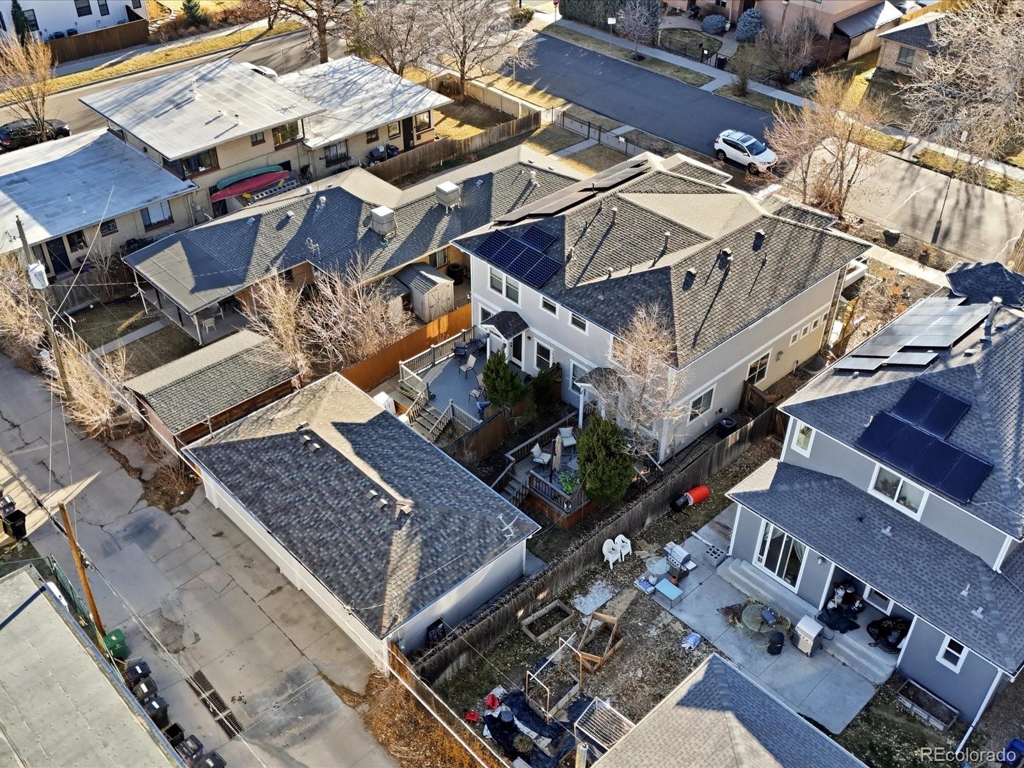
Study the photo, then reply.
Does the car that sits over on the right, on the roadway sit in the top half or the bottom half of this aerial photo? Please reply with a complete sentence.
The car that sits over on the right, on the roadway sits in the top half of the picture.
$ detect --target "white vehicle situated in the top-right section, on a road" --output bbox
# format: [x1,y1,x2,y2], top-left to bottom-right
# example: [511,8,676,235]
[713,131,784,175]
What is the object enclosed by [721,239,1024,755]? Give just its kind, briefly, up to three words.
house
